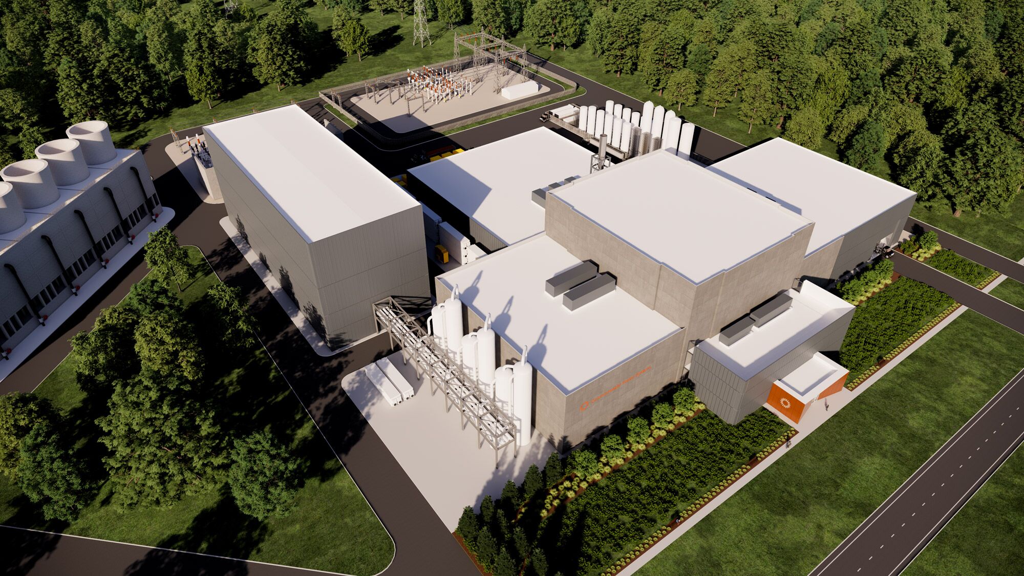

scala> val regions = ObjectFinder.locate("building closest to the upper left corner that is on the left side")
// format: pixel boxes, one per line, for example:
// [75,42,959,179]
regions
[0,122,163,358]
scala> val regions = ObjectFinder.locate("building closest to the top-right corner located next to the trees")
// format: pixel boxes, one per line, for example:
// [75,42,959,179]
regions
[703,137,918,292]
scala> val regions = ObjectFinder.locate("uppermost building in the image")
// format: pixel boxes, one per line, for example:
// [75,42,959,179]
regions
[502,81,539,99]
